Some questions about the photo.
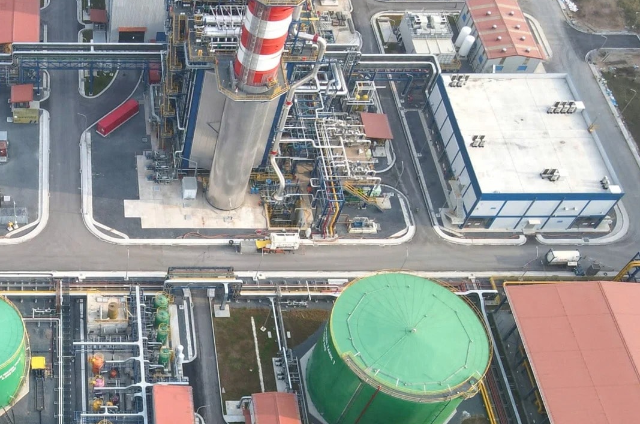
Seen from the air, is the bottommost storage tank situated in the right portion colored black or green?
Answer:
green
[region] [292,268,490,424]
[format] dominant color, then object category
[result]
green storage tank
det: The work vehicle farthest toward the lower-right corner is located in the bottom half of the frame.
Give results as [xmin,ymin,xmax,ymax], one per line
[570,263,588,276]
